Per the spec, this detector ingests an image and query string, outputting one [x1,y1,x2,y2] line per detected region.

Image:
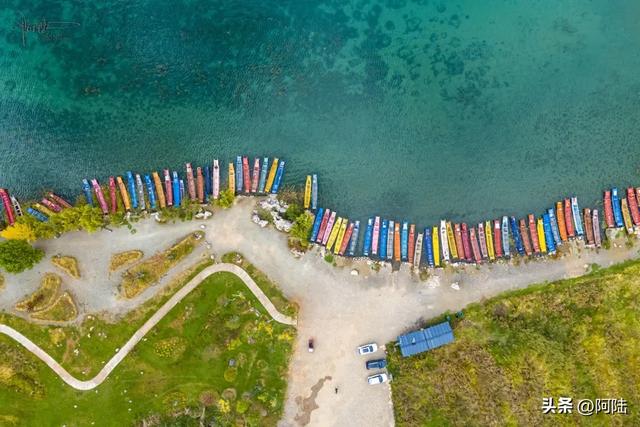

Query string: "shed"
[398,322,453,354]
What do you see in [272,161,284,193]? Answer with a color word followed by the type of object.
blue boat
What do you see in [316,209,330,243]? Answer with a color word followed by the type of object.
red boat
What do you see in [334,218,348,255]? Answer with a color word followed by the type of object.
yellow boat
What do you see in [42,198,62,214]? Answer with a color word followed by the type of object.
pink boat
